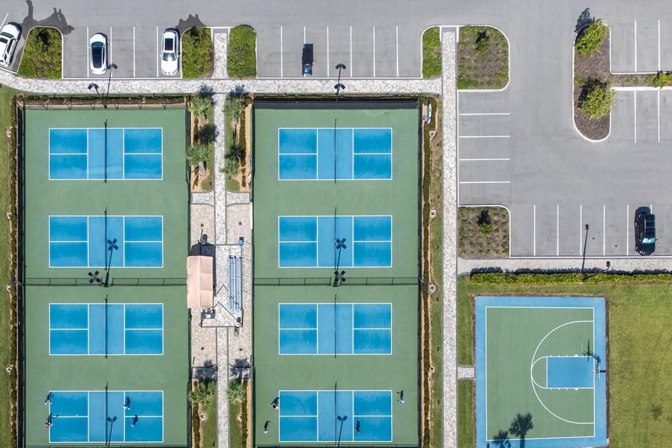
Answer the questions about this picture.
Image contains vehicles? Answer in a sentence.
Yes, this view includes a vehicle.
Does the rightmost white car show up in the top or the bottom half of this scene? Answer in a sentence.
The rightmost white car is in the top half of the image.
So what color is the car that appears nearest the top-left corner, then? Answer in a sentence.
The color of the car that appears nearest the top-left corner is white.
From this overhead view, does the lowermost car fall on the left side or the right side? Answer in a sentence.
You can find the lowermost car on the right side of the picture.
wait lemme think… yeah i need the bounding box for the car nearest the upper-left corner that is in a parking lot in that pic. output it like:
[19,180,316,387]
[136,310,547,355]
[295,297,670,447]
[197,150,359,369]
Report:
[0,23,22,66]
